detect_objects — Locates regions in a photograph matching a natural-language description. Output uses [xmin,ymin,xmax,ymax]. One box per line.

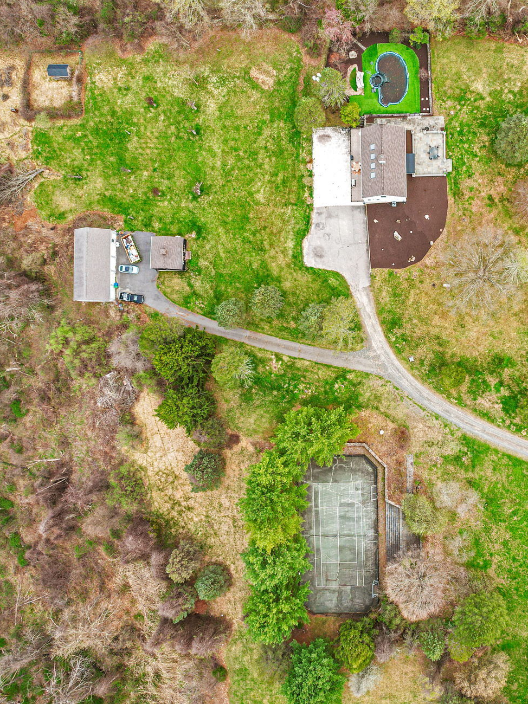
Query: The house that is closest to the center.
[151,235,188,271]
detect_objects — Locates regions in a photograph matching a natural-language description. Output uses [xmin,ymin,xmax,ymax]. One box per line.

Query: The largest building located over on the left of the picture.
[74,226,116,300]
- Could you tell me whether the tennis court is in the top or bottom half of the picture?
bottom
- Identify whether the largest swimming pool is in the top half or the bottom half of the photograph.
top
